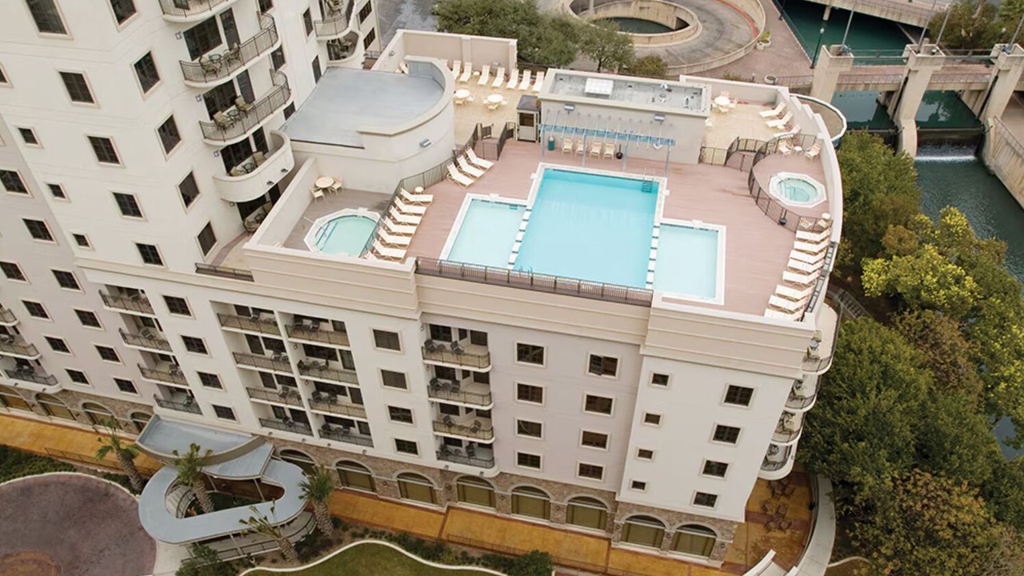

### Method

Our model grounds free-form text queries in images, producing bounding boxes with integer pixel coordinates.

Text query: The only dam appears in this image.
[778,42,1024,174]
